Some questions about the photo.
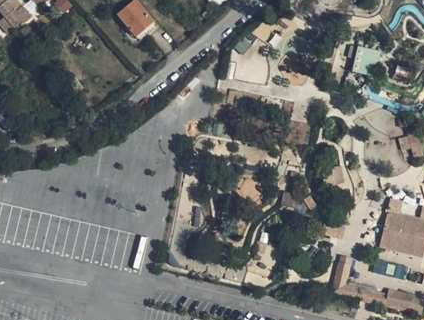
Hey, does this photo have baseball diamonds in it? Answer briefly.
No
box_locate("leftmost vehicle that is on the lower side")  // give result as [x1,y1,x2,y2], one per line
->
[133,236,148,270]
